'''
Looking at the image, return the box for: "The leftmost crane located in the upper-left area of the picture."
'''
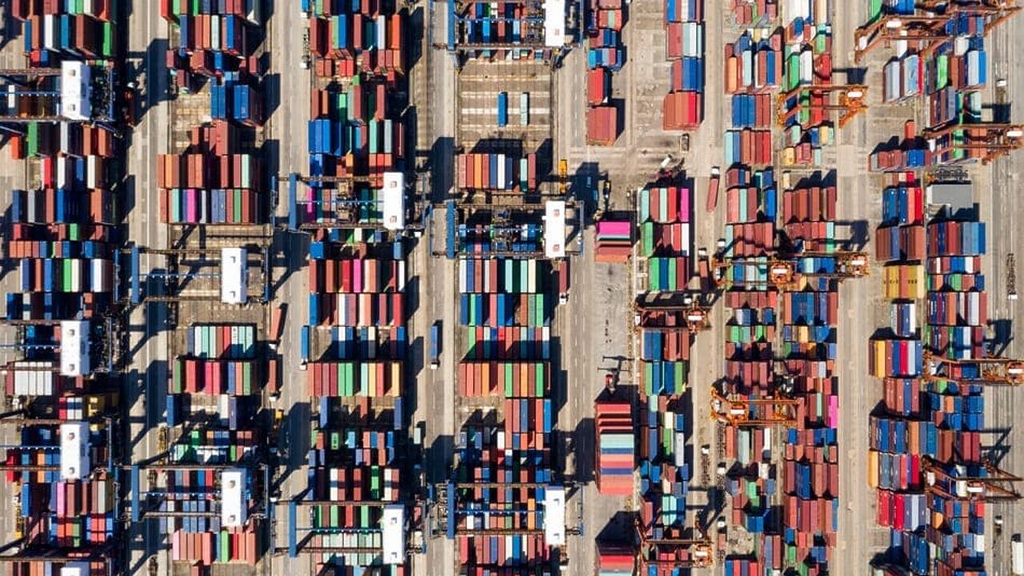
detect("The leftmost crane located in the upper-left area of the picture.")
[0,61,128,140]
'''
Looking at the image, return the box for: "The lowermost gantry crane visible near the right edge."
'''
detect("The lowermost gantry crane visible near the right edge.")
[923,458,1024,502]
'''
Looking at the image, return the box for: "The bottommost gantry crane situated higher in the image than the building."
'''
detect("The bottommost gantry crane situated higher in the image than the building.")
[923,121,1024,162]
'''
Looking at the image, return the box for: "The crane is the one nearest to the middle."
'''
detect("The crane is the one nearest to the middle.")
[431,199,583,263]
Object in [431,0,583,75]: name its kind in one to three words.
crane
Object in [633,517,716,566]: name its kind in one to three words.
container crane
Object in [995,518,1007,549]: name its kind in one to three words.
vehicle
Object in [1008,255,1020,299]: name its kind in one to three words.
vehicle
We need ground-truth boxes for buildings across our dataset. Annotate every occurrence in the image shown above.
[933,186,982,215]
